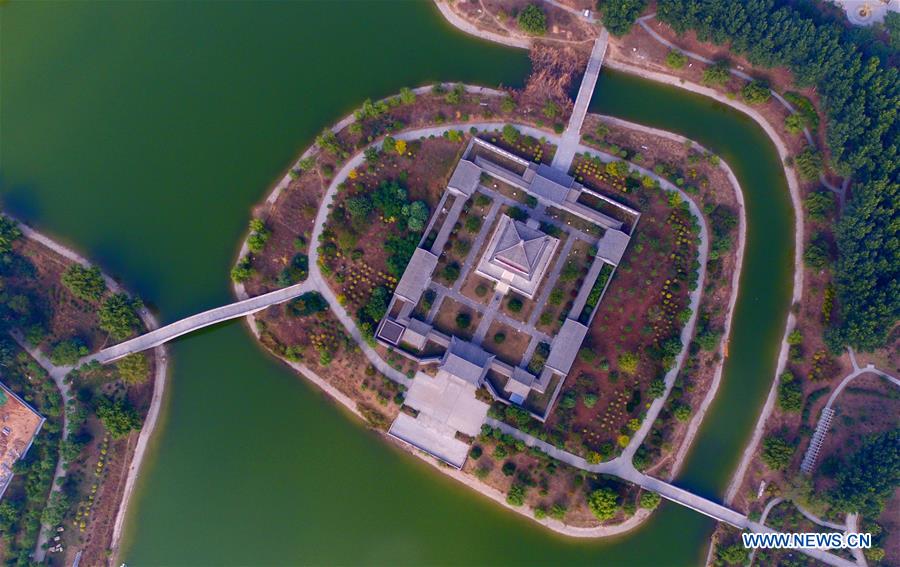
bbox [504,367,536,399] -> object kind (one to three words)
house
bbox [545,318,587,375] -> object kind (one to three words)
building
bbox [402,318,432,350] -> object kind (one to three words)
house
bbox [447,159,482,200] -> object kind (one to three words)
building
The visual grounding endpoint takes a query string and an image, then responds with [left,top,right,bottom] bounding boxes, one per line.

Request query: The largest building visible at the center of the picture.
[475,214,560,300]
